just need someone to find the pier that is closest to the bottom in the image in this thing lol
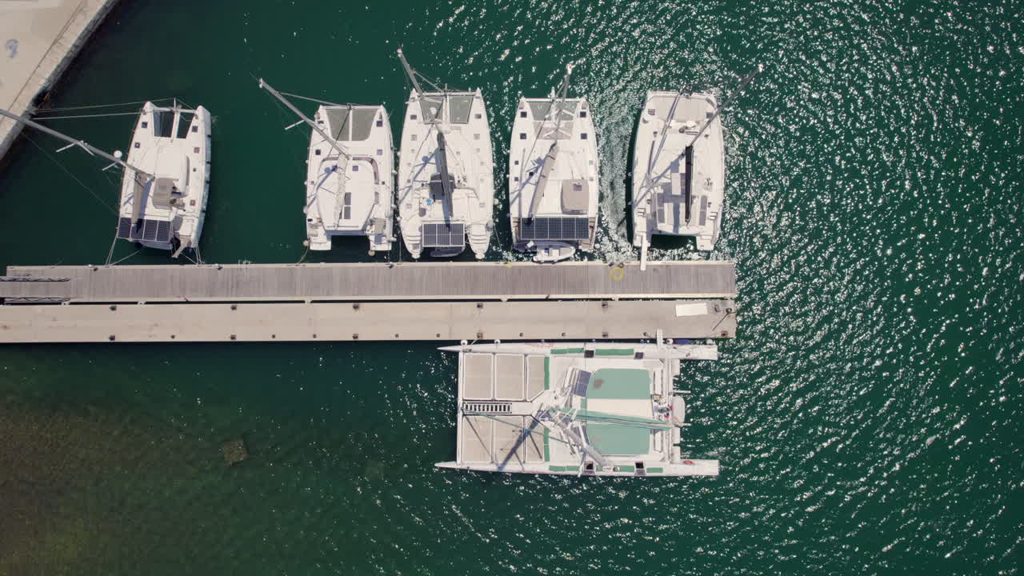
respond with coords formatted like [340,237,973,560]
[0,297,737,342]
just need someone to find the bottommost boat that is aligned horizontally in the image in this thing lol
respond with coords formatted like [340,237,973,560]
[434,343,717,477]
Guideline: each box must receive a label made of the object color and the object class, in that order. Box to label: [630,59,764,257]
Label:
white boat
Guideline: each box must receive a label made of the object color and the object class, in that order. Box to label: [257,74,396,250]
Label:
white boat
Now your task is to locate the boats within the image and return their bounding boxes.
[510,59,598,250]
[431,246,465,259]
[525,243,576,262]
[0,97,212,249]
[674,396,685,422]
[138,236,178,253]
[434,343,717,477]
[257,74,396,250]
[396,43,494,262]
[630,59,764,257]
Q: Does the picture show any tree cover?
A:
No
